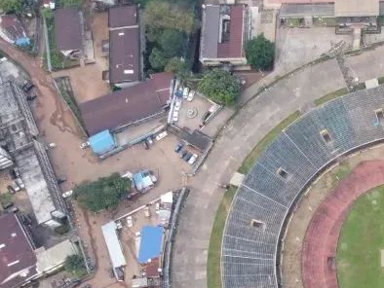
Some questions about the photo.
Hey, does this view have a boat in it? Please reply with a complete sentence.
No, this view has no boat in it.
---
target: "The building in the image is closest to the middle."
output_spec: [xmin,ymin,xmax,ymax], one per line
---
[166,125,213,149]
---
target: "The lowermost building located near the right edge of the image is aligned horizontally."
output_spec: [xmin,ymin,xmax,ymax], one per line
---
[335,17,379,31]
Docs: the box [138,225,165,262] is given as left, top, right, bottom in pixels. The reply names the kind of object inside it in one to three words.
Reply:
building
